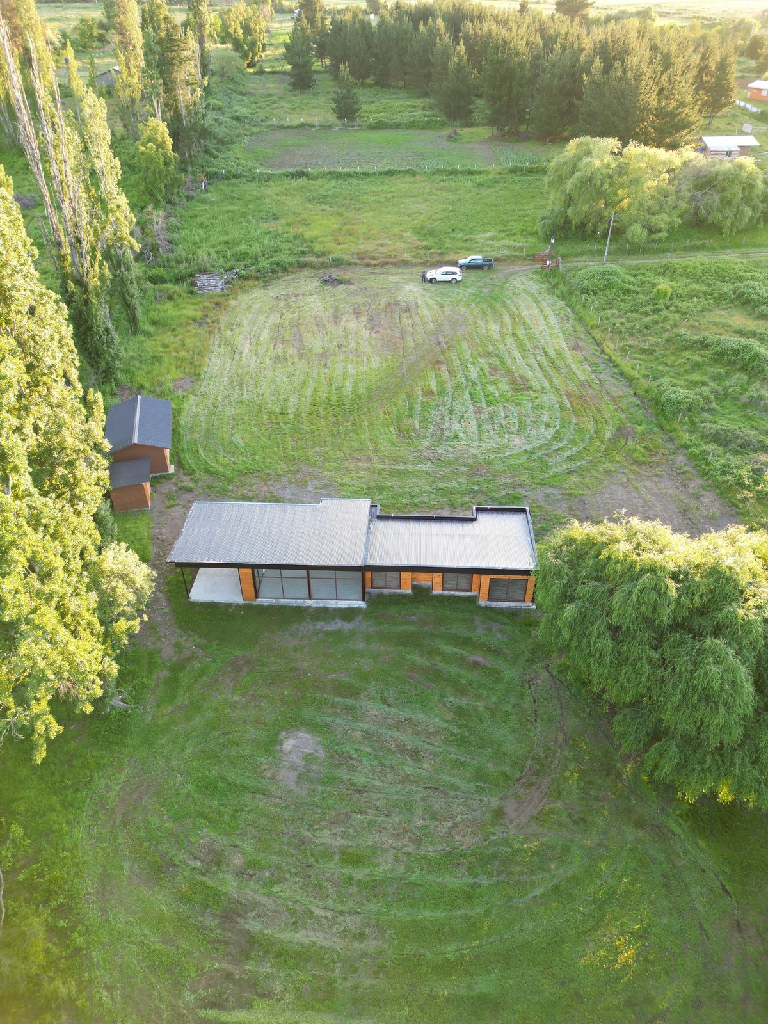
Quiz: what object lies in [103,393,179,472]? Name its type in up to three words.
shed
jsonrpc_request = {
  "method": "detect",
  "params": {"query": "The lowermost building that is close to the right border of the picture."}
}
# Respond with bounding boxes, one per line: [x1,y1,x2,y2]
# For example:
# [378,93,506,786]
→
[698,130,763,157]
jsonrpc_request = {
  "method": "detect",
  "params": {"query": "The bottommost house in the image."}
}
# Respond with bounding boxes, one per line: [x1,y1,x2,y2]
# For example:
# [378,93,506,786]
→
[167,496,541,608]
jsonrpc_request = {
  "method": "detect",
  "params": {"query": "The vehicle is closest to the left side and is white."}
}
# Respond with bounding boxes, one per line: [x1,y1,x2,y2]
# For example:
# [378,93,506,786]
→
[427,264,464,281]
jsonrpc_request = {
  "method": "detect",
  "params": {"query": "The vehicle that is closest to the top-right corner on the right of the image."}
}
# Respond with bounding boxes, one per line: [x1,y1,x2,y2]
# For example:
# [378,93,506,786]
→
[457,252,496,267]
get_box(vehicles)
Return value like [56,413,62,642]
[457,252,496,267]
[427,264,464,281]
